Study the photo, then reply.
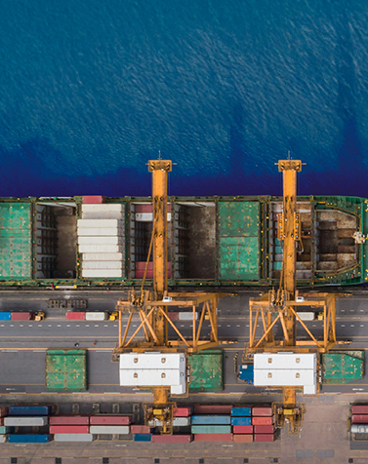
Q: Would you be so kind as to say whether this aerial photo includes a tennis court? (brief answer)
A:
No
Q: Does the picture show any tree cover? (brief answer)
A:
No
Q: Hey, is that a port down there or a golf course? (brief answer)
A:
port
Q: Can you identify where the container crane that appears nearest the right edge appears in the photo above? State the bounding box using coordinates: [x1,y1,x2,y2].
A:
[239,152,358,433]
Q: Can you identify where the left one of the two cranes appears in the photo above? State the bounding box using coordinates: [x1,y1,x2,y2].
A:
[109,152,237,433]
